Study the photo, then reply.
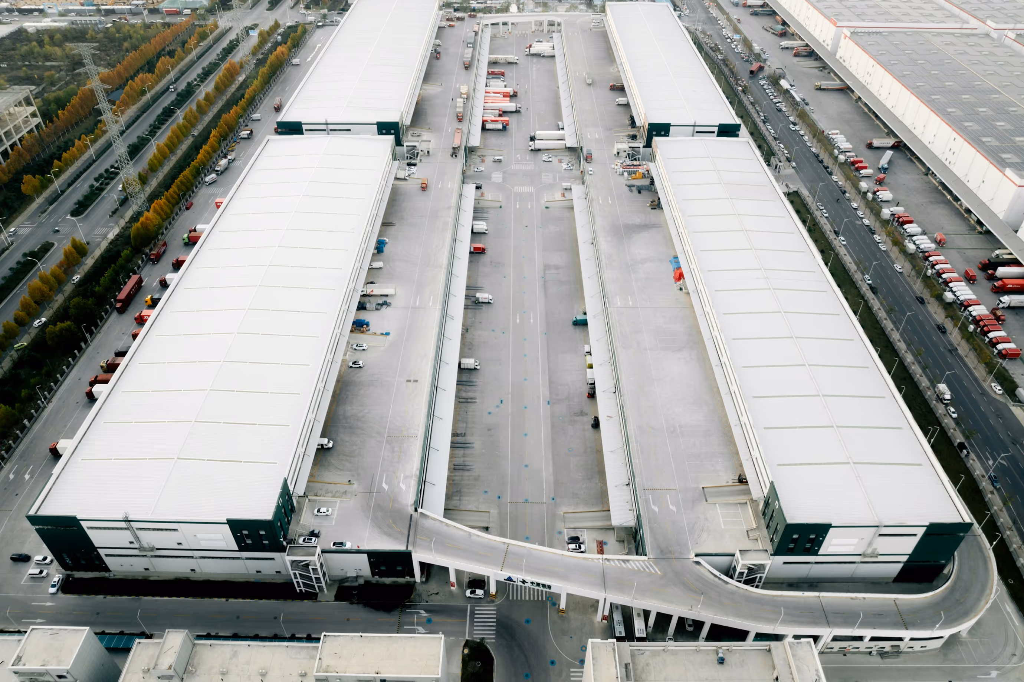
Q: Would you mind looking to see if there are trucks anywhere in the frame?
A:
Yes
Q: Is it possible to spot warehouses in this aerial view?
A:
Yes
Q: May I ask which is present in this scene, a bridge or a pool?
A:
bridge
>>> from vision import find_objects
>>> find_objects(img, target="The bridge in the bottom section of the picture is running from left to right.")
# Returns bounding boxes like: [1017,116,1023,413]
[409,462,997,657]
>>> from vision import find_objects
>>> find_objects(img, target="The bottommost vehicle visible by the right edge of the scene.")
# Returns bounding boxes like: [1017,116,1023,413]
[986,473,1001,488]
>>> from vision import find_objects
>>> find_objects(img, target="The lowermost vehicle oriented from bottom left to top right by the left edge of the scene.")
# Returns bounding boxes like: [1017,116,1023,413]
[46,575,65,594]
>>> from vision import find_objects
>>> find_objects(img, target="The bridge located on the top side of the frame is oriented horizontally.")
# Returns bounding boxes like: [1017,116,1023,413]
[479,10,606,37]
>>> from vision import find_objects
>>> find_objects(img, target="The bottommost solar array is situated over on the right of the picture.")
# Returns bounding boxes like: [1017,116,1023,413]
[853,33,1024,171]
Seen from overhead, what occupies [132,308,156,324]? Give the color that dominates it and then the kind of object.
red vehicle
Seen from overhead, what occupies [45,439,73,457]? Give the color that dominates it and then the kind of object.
white vehicle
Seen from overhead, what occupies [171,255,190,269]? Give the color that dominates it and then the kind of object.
red vehicle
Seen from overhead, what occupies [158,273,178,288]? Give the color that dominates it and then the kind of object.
white vehicle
